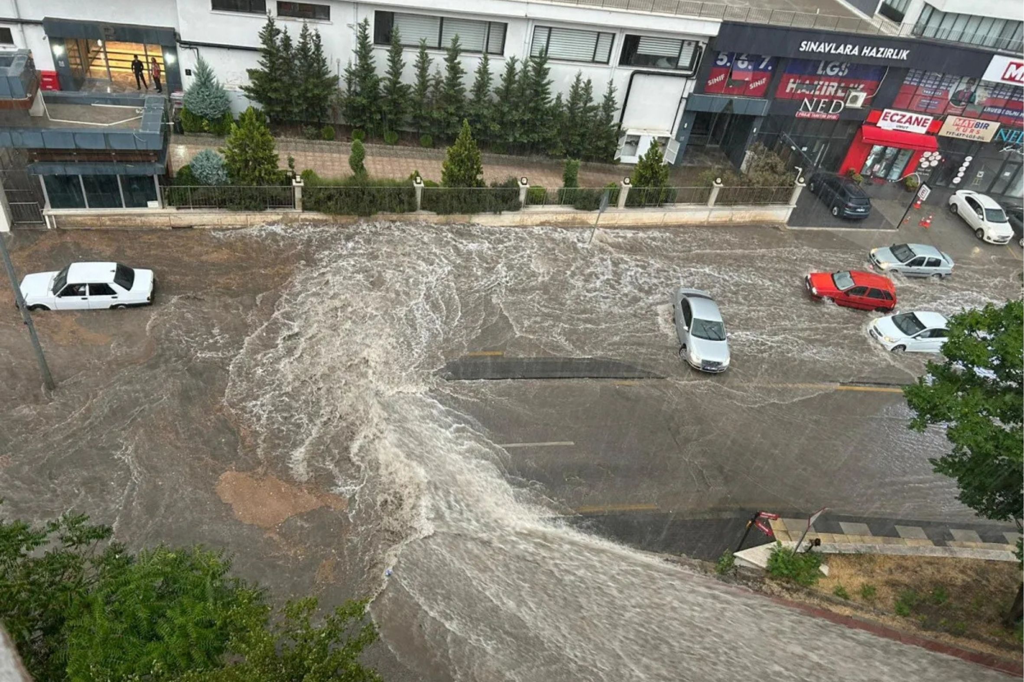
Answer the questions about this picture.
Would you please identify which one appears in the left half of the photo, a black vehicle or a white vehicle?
white vehicle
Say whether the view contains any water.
Yes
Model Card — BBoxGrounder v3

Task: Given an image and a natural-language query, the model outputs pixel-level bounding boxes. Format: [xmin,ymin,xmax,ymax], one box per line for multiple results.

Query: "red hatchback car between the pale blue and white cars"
[802,267,900,311]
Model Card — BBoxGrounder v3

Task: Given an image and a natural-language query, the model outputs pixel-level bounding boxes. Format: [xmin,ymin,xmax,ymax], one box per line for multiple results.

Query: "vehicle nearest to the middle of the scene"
[674,284,734,372]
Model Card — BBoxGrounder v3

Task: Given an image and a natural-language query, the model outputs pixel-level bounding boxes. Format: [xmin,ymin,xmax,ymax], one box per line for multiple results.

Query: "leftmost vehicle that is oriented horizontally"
[23,260,156,310]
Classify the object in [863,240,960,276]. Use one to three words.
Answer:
car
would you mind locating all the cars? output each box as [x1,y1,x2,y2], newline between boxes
[1000,200,1024,239]
[944,190,1019,248]
[674,284,734,372]
[802,267,900,311]
[804,170,883,226]
[23,260,156,310]
[866,310,975,355]
[863,240,960,276]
